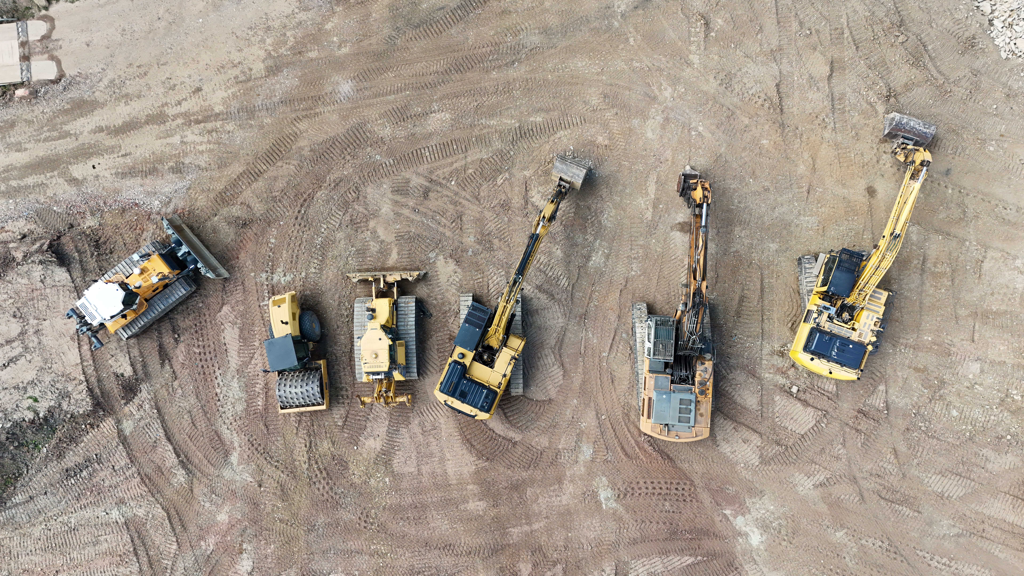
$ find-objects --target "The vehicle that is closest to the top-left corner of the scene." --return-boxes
[63,216,232,350]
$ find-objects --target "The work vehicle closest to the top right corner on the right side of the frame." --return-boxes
[789,113,936,380]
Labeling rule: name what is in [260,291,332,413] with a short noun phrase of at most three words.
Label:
work vehicle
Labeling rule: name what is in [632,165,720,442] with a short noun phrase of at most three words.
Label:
work vehicle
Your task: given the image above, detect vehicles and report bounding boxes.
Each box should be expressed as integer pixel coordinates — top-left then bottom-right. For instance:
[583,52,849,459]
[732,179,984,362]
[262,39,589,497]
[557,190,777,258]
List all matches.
[632,165,720,442]
[789,113,936,380]
[346,271,429,408]
[434,154,591,419]
[260,291,332,413]
[63,216,232,350]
